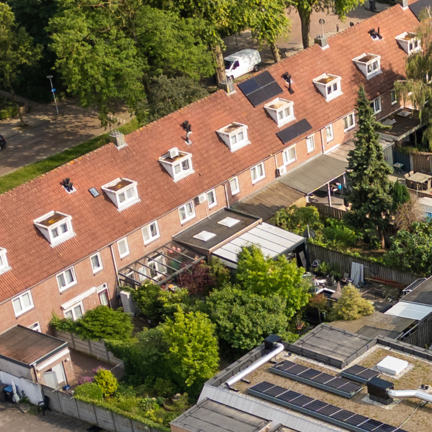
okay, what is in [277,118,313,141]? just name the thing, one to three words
solar array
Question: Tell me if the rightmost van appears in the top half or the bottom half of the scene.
top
